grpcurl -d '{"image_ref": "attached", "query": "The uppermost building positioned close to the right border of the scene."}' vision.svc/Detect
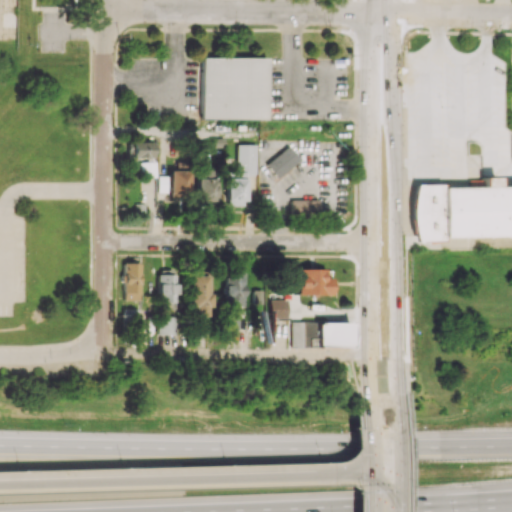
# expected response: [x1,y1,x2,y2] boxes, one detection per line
[418,178,512,244]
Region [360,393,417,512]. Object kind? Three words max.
bridge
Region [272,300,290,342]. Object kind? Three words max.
building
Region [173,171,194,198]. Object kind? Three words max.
house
